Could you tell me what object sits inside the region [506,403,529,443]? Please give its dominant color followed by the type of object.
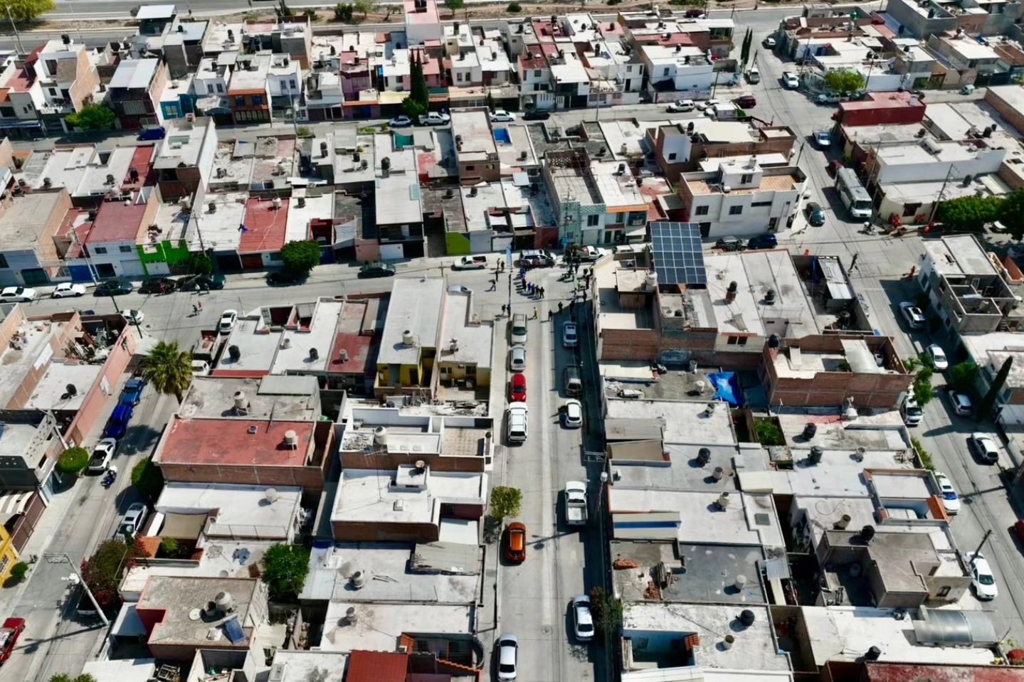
white car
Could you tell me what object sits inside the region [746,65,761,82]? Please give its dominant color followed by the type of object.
gray car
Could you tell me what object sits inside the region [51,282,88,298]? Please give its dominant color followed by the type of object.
white car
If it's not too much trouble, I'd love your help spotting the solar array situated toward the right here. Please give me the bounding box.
[648,222,706,299]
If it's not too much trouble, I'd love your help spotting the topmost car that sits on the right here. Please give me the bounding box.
[683,7,709,19]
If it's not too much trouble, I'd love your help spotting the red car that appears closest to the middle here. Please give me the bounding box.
[509,373,527,404]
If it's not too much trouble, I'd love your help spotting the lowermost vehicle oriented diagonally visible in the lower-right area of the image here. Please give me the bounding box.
[961,554,1004,602]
